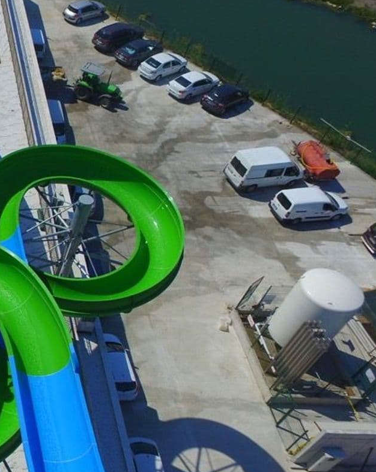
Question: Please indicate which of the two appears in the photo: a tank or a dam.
tank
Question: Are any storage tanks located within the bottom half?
Yes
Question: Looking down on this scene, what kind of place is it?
parking lot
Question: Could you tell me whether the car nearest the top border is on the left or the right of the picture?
left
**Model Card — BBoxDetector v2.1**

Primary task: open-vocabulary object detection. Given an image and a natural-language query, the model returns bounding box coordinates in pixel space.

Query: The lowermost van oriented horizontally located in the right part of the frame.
[271,181,349,217]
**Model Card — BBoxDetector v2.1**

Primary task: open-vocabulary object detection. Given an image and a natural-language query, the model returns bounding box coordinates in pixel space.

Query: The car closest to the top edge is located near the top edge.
[62,0,106,20]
